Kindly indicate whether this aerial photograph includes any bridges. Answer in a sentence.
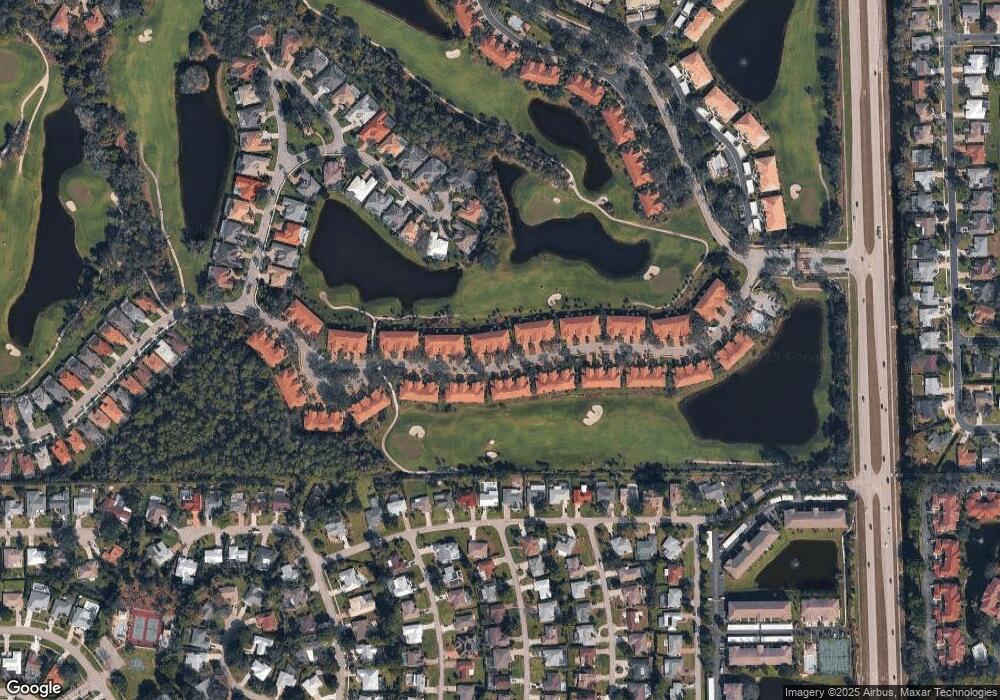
No, the scene contains no bridge.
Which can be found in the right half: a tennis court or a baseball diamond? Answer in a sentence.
Visible in the right half is a tennis court.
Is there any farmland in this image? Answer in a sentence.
No, there is no farmland in the image.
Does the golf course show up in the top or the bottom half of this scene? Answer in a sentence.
The top half of the photo is where the golf course is.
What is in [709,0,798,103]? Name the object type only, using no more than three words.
pond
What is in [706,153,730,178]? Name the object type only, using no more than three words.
building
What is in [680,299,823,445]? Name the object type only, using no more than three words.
pond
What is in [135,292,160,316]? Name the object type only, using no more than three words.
house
